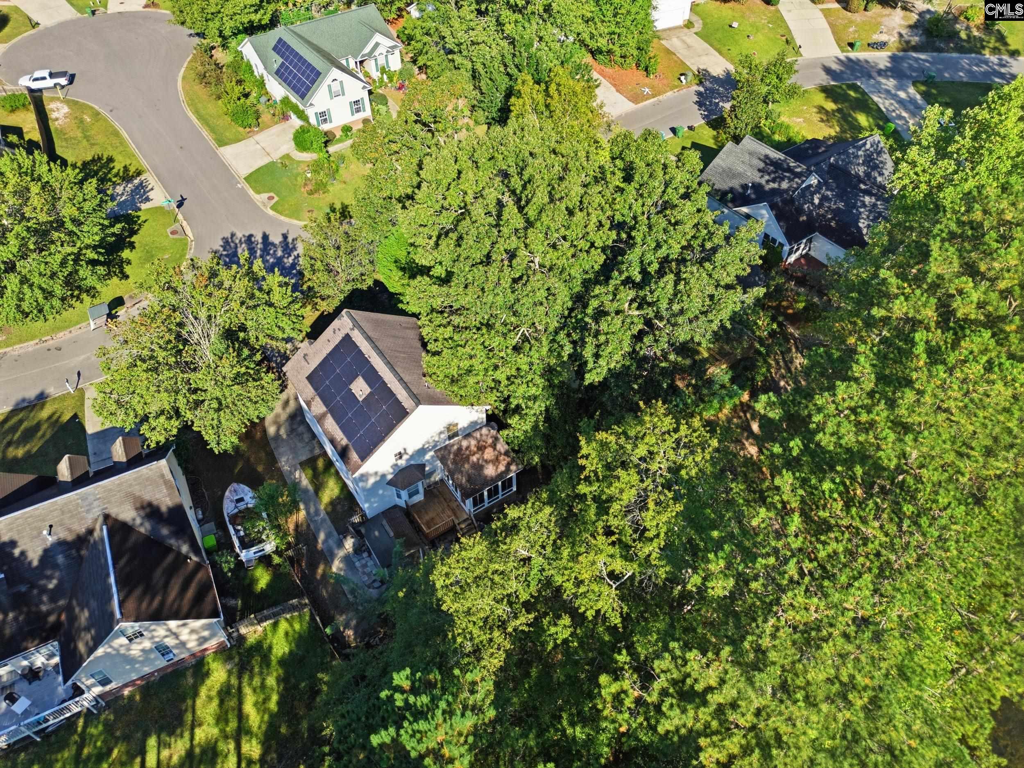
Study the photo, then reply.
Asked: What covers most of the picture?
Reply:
trees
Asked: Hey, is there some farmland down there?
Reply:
No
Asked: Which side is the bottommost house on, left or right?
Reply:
left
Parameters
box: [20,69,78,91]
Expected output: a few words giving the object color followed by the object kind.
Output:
white truck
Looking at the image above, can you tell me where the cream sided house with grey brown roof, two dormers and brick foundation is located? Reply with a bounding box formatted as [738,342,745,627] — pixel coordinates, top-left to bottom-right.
[0,434,238,704]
